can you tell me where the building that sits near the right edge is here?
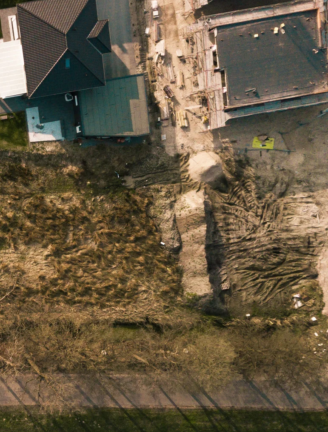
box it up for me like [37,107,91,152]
[203,7,328,109]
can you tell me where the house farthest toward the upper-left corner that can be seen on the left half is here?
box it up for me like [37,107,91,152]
[15,0,111,99]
